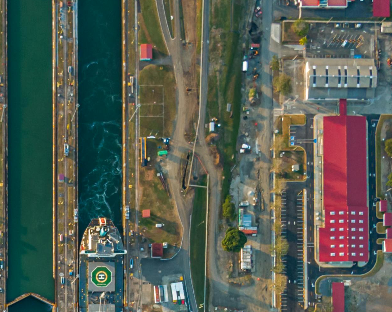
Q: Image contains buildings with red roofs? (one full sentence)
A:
Yes, I can see a building with a red roof in this picture.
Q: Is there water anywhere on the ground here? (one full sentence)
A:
Yes, water can be seen from above here.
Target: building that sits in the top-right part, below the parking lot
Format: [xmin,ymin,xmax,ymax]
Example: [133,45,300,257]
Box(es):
[304,59,378,101]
